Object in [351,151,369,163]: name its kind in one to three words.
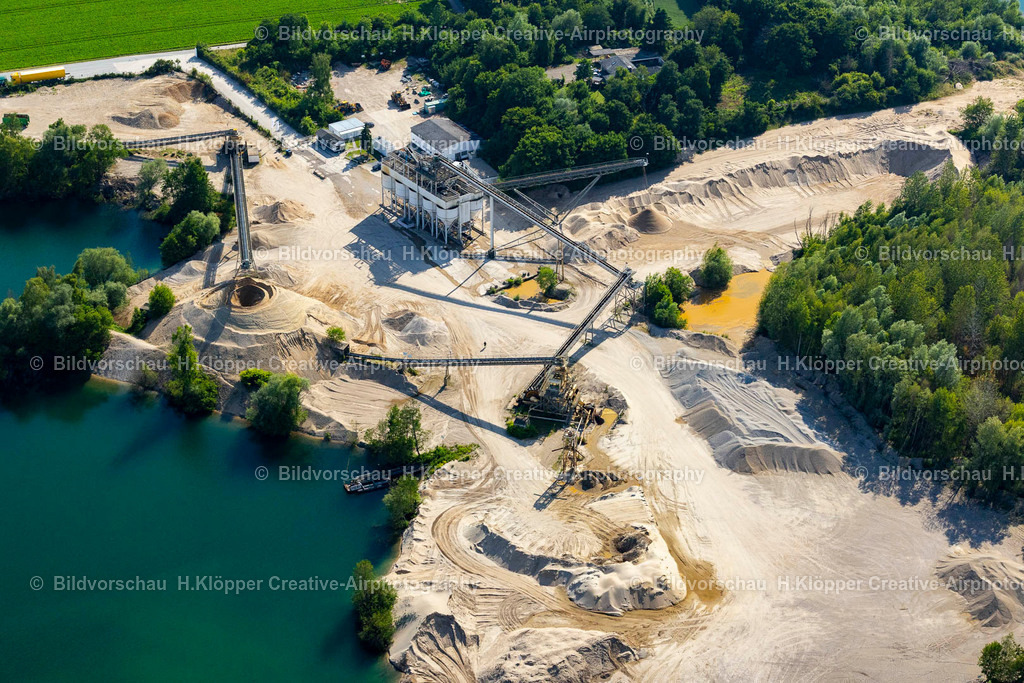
vehicle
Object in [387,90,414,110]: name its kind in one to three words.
work vehicle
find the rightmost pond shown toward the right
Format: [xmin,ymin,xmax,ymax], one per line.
[680,276,779,352]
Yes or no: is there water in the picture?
Yes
